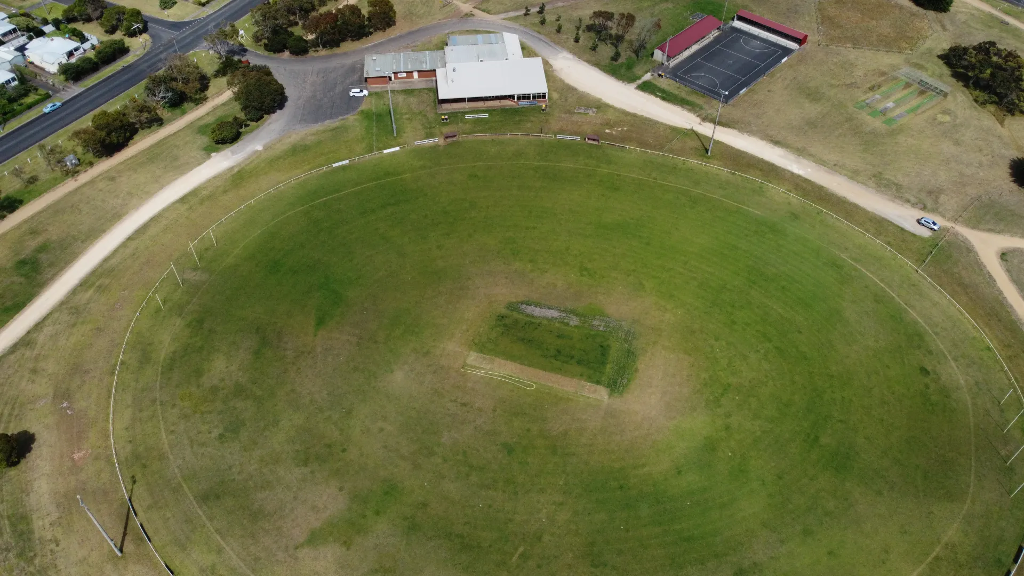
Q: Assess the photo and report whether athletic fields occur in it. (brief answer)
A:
Yes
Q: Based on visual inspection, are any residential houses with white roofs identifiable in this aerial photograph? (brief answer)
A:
Yes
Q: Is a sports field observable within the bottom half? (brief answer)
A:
Yes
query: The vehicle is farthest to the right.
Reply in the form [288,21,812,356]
[918,216,941,231]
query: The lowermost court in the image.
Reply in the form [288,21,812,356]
[662,25,795,101]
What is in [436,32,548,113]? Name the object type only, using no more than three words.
building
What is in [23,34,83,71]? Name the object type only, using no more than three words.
house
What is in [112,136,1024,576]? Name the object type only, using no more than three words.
sports field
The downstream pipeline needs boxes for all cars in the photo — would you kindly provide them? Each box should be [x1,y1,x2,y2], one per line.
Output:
[349,89,368,97]
[918,216,941,231]
[42,103,62,113]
